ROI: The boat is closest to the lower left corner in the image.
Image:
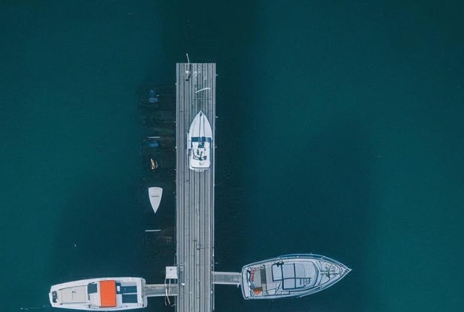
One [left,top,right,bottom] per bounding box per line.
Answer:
[49,275,164,312]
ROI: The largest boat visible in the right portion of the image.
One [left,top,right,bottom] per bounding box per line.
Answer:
[223,254,353,302]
